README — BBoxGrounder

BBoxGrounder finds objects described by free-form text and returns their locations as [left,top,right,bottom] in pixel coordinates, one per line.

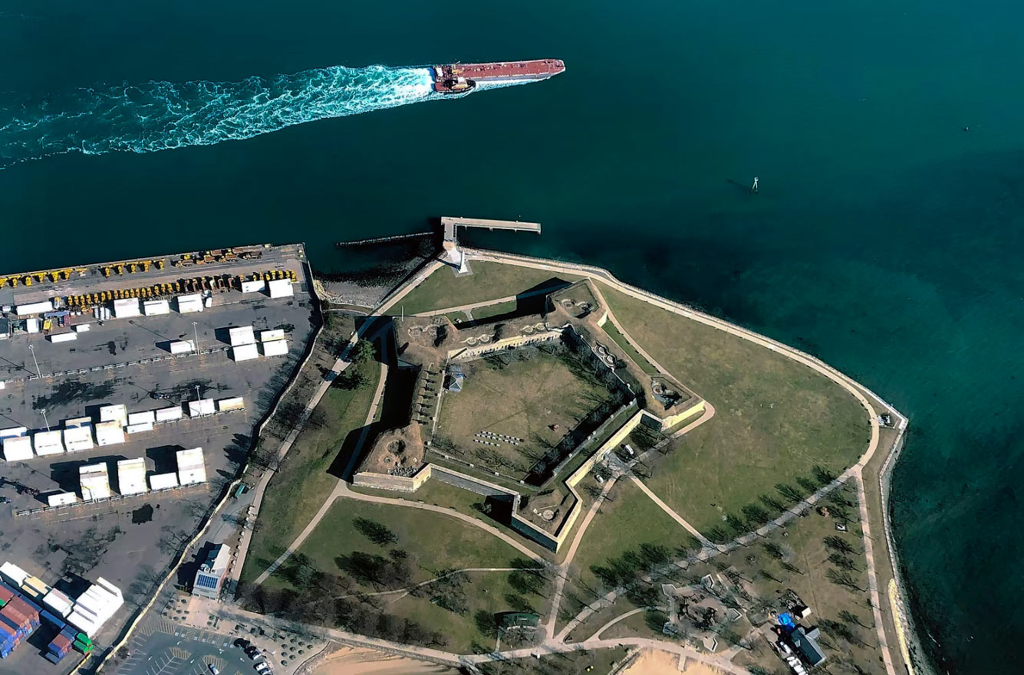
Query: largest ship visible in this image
[439,55,559,81]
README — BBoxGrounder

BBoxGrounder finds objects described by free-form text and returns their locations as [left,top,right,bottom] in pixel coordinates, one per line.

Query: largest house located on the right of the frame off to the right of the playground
[791,627,826,669]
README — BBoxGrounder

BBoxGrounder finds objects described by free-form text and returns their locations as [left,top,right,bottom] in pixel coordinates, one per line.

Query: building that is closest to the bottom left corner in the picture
[191,543,232,606]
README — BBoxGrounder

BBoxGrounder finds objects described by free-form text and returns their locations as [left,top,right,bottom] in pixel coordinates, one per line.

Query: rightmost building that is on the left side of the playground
[495,612,540,632]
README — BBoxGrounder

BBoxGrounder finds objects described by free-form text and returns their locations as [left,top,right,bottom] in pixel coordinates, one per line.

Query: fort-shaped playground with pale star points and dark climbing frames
[661,573,743,651]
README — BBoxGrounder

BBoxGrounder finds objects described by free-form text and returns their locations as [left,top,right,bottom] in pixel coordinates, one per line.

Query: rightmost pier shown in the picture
[441,215,541,240]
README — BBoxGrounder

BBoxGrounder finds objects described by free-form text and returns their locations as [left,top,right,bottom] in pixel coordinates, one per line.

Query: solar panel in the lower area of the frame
[194,572,220,592]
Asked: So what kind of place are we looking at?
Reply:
port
